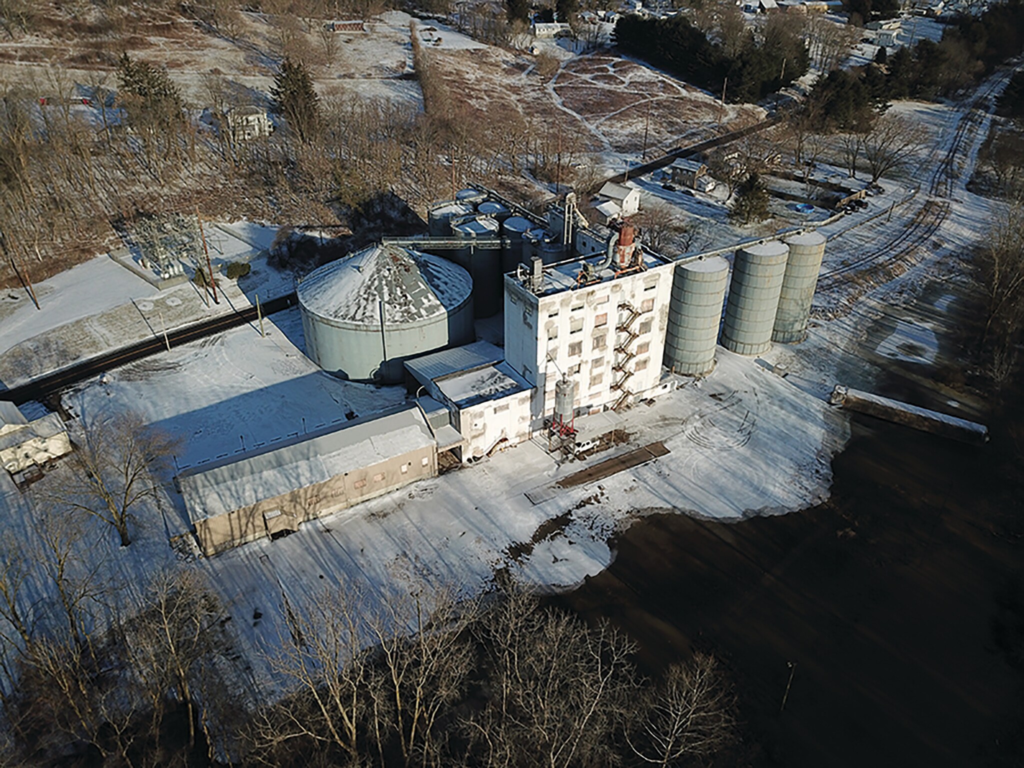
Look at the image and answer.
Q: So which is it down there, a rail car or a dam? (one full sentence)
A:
There is a rail car in the scene.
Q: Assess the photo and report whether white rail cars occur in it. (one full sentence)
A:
No, the scene contains no white rail car.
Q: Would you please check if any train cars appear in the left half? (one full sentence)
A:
No, no train car can be made out in the left half.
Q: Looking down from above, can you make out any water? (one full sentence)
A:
Yes, there's water in this view.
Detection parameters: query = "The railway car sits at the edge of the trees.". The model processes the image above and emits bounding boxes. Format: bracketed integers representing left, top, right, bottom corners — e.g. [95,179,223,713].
[835,384,989,448]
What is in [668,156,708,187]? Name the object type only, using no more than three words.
house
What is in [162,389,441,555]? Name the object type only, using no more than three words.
shed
